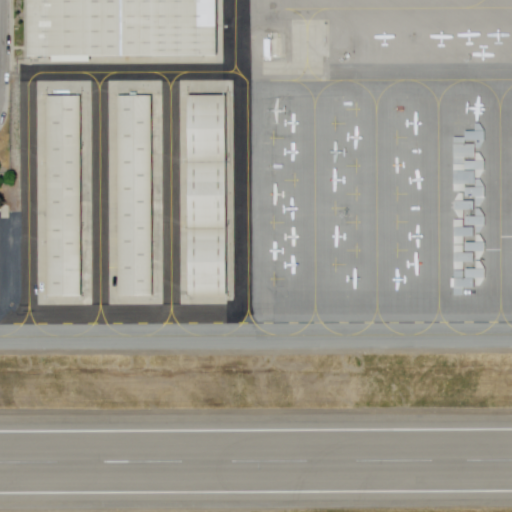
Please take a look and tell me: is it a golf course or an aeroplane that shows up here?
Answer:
aeroplane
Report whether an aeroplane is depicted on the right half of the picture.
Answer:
Yes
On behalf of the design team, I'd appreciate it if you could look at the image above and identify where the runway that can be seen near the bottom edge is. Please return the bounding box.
[0,414,512,504]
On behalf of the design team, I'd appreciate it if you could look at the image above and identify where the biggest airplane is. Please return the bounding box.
[466,96,485,122]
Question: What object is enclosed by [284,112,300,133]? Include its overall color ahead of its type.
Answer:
white airplane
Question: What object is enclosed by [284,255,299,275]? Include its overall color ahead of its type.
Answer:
white airplane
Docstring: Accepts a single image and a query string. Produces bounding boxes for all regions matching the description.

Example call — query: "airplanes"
[330,168,346,192]
[406,252,423,276]
[346,126,362,150]
[282,196,298,220]
[458,30,482,46]
[392,156,406,174]
[284,255,299,275]
[284,227,300,247]
[284,112,300,133]
[406,111,422,136]
[472,45,495,60]
[346,266,362,289]
[408,224,424,248]
[268,98,286,124]
[374,32,396,47]
[270,182,284,206]
[409,169,424,190]
[430,31,454,48]
[488,29,510,44]
[392,268,407,292]
[270,240,284,260]
[284,142,299,162]
[466,96,485,122]
[332,225,346,248]
[330,140,346,163]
